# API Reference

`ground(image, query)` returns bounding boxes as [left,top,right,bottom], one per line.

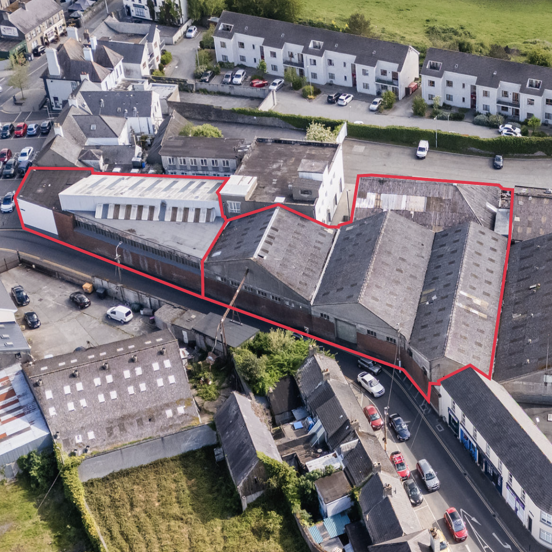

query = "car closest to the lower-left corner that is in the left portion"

[22,308,43,331]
